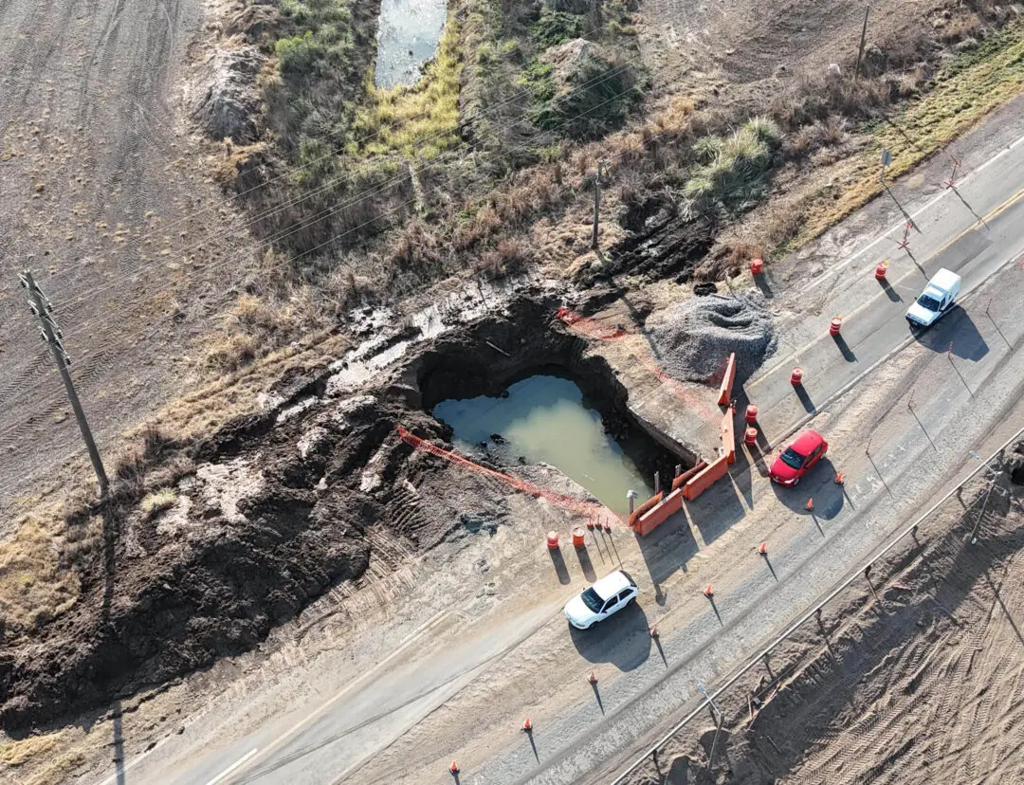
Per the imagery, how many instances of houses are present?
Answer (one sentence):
The picture shows no houses.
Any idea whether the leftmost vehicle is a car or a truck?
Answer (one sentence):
It looks like the leftmost vehicle is a car.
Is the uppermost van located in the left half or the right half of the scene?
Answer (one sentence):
It is on the right.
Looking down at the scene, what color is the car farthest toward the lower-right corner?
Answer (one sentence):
The color of the car farthest toward the lower-right corner is red.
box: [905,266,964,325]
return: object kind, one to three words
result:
van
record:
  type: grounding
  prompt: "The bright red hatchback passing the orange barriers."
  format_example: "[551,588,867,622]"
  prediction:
[771,429,832,485]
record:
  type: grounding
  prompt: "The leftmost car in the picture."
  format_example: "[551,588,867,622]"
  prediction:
[565,569,642,629]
